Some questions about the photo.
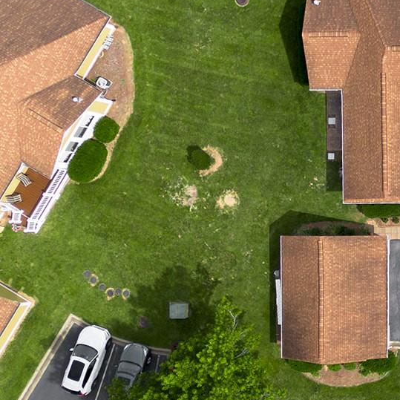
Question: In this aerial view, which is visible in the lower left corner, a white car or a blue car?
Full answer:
The feature located in the lower left corner is a white car.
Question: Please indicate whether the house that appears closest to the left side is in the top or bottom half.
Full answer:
It is in the bottom half that the house that appears closest to the left side appears.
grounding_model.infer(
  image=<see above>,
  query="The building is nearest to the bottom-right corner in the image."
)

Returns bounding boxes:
[279,235,391,364]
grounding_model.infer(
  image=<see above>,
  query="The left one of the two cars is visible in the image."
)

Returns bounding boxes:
[63,322,114,399]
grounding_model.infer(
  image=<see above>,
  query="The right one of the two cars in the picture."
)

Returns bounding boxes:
[106,336,155,400]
